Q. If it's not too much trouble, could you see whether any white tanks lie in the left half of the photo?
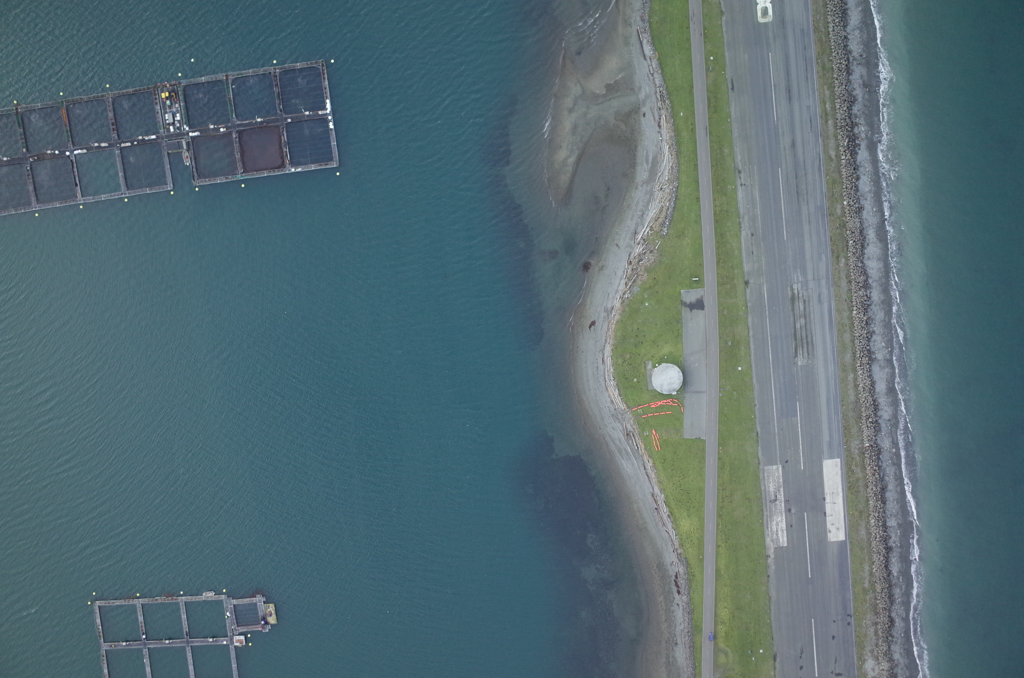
No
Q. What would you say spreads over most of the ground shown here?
water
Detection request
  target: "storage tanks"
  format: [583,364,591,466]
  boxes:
[650,361,683,394]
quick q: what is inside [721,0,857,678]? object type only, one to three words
runway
